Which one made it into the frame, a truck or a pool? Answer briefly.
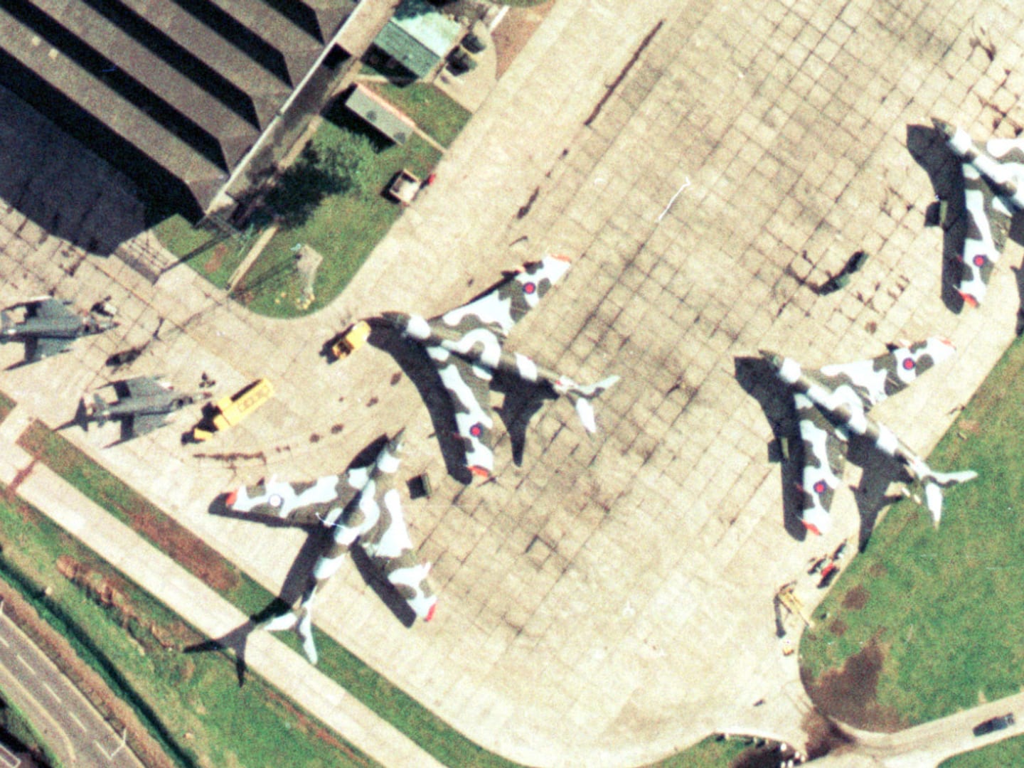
truck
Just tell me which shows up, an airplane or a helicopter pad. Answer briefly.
airplane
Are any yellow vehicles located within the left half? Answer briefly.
Yes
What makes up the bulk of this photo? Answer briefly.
paved ground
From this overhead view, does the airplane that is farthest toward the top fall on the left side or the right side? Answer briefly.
right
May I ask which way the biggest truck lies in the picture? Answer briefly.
at an angle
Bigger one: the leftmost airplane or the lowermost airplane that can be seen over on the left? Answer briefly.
the lowermost airplane that can be seen over on the left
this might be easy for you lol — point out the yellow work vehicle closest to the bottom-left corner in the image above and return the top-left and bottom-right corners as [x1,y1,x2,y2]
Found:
[191,424,213,439]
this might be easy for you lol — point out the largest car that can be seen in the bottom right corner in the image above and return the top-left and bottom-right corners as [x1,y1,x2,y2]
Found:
[989,710,1017,729]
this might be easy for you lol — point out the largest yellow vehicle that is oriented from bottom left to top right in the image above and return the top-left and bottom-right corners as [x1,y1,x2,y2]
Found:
[214,377,274,431]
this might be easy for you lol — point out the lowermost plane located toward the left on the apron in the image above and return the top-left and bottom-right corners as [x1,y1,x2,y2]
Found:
[226,426,447,663]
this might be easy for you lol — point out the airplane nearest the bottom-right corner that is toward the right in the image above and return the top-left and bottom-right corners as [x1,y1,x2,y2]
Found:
[756,330,980,534]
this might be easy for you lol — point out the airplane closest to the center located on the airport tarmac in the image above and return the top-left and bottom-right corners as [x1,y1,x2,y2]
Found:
[381,250,624,476]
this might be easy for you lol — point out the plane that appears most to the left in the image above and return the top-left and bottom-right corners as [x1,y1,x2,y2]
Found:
[4,301,121,361]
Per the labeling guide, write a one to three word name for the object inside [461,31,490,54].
car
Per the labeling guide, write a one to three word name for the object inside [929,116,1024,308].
airplane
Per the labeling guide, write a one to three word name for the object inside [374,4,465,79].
shed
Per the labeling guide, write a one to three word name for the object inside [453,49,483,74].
car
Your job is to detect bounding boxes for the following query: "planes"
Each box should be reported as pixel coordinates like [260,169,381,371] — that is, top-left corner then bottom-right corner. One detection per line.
[4,301,121,361]
[97,380,213,442]
[929,116,1024,308]
[381,250,624,476]
[756,330,980,534]
[226,426,447,663]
